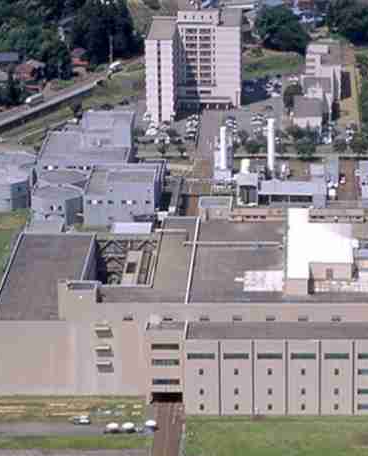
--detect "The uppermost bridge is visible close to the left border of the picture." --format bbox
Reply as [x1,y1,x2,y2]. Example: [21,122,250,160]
[0,80,105,134]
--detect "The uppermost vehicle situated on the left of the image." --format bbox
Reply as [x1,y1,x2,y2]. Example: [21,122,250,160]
[105,59,127,72]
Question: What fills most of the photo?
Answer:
buildings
